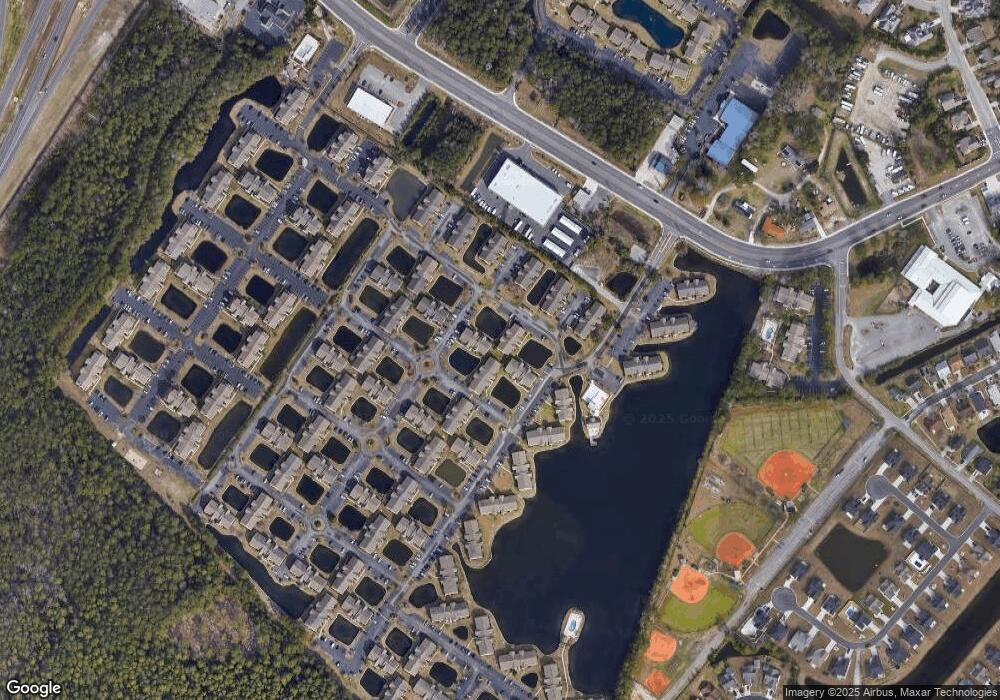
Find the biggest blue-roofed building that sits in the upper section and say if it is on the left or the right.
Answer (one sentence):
You can find the biggest blue-roofed building that sits in the upper section on the right side of the picture.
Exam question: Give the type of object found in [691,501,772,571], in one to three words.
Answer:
baseball field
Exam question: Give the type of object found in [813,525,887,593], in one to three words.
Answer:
pond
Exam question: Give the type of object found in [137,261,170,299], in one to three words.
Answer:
building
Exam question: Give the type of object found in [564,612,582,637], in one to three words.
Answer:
swimming pool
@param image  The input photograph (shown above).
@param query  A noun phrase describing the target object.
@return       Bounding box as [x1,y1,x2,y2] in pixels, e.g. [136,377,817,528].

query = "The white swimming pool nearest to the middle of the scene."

[582,381,609,413]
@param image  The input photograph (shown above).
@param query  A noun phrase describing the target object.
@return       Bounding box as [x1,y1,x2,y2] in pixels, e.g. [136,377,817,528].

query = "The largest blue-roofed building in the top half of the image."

[707,87,754,164]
